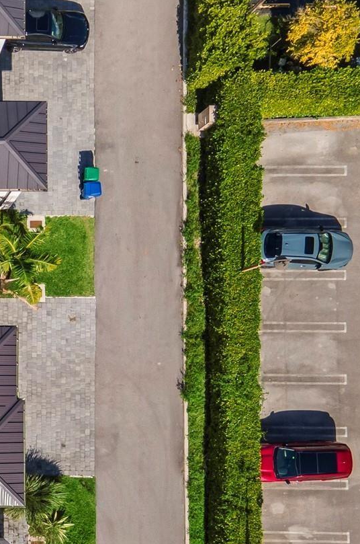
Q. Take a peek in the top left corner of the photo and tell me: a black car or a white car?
black car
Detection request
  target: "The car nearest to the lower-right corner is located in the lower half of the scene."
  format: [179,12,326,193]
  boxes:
[261,439,351,486]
